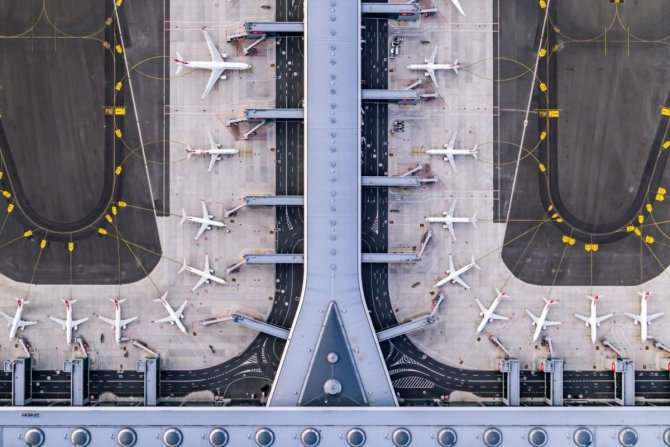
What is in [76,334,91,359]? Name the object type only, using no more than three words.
jet bridge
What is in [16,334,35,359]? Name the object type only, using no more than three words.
jet bridge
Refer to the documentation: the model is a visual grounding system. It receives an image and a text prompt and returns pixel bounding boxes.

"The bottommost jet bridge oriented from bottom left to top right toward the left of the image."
[222,259,245,275]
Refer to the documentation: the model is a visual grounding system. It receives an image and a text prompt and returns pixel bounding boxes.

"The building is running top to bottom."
[268,0,397,407]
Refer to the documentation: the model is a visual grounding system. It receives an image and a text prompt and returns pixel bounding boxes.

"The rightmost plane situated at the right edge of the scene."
[625,293,668,342]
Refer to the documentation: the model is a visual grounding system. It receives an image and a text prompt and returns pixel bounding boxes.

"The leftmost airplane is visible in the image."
[0,299,37,340]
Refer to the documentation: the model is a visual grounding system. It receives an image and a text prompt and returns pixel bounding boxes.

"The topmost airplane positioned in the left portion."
[172,27,251,101]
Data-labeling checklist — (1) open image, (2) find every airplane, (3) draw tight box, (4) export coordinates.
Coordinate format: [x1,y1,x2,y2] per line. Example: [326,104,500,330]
[152,295,188,333]
[0,299,37,340]
[96,301,137,344]
[182,200,227,241]
[434,254,479,291]
[574,298,617,344]
[426,130,480,173]
[185,130,239,171]
[426,198,480,241]
[181,253,226,293]
[525,298,566,342]
[408,45,462,86]
[45,300,88,344]
[172,27,251,101]
[476,291,512,334]
[625,293,668,342]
